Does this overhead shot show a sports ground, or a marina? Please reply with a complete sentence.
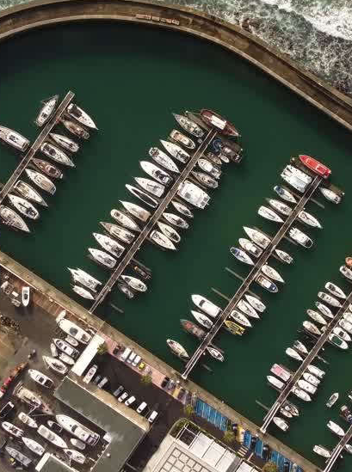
It's a marina.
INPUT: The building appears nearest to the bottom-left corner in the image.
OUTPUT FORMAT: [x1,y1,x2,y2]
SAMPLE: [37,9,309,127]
[37,374,150,472]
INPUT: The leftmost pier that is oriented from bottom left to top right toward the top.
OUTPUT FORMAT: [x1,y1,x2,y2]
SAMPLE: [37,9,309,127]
[0,90,75,205]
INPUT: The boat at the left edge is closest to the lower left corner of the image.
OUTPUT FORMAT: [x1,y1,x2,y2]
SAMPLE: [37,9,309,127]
[6,448,33,468]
